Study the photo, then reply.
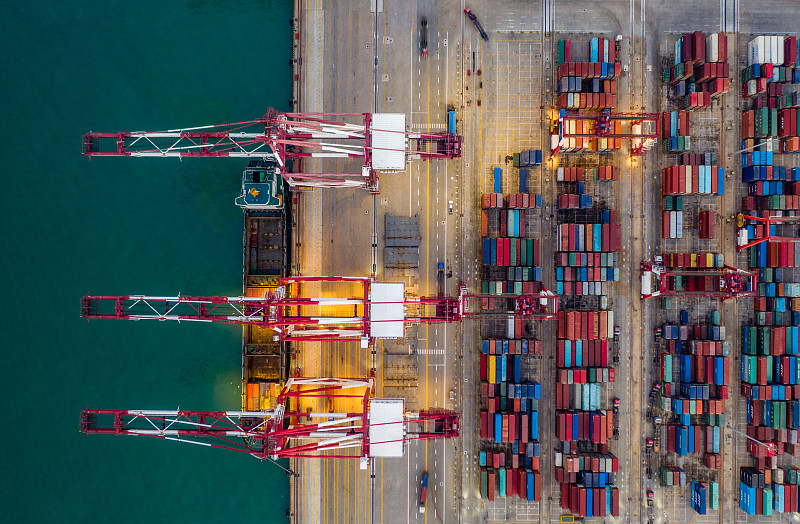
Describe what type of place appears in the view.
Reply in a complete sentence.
The area seen from above is a port.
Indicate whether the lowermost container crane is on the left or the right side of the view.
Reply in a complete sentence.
It is on the left.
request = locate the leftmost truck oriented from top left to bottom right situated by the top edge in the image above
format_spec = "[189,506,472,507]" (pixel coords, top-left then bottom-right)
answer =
[465,7,491,40]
